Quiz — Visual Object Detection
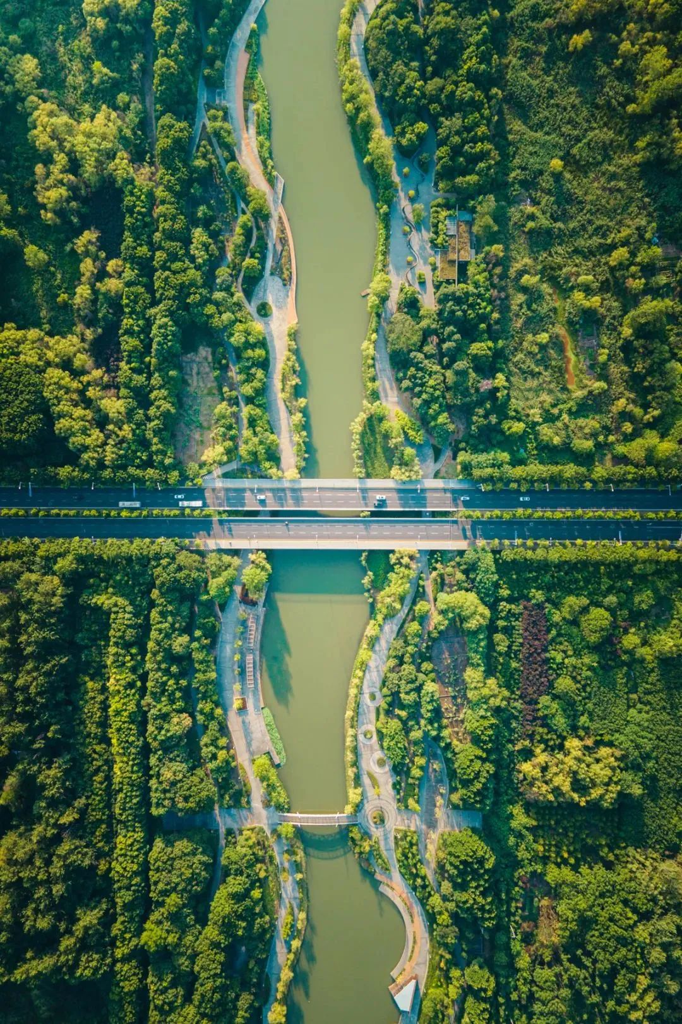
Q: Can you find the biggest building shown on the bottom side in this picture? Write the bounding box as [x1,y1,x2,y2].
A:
[388,974,418,1014]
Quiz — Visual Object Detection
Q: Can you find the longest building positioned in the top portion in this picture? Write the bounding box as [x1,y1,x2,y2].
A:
[435,206,476,283]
